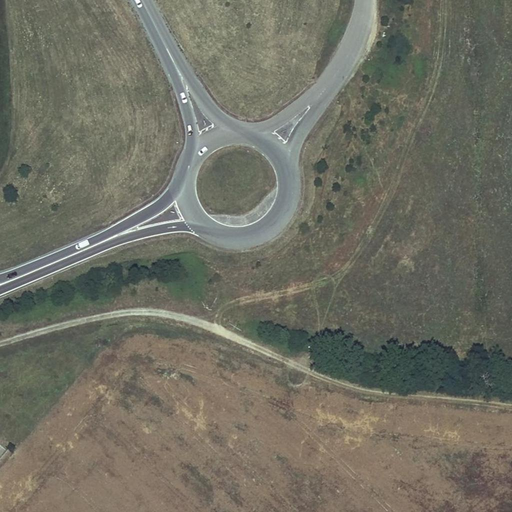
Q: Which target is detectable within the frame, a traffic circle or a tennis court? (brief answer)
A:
traffic circle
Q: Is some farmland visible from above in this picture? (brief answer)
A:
Yes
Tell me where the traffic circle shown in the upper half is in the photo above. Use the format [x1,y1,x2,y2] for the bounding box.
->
[169,120,301,250]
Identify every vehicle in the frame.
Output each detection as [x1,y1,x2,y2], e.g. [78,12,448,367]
[76,240,90,250]
[198,146,208,156]
[135,0,142,8]
[6,272,17,278]
[180,92,186,103]
[187,125,192,136]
